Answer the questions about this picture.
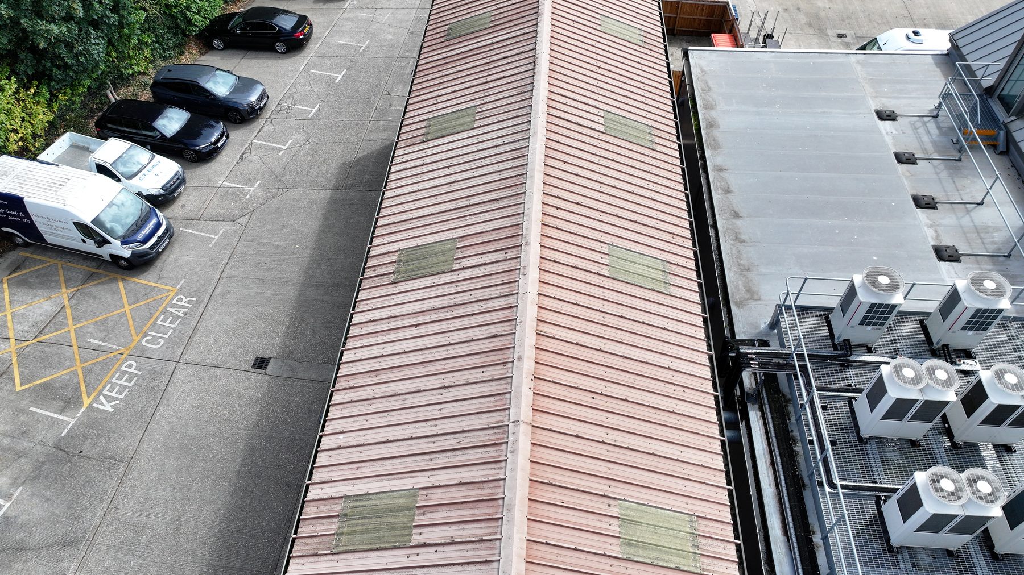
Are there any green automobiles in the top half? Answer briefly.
No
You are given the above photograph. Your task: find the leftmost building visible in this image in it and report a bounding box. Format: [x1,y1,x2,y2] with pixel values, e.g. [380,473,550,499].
[281,0,748,575]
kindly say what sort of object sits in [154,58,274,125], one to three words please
car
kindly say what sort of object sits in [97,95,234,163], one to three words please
car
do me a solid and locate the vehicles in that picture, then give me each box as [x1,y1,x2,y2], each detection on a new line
[833,26,952,54]
[97,95,234,163]
[198,5,313,54]
[0,152,179,271]
[154,58,274,125]
[35,134,191,208]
